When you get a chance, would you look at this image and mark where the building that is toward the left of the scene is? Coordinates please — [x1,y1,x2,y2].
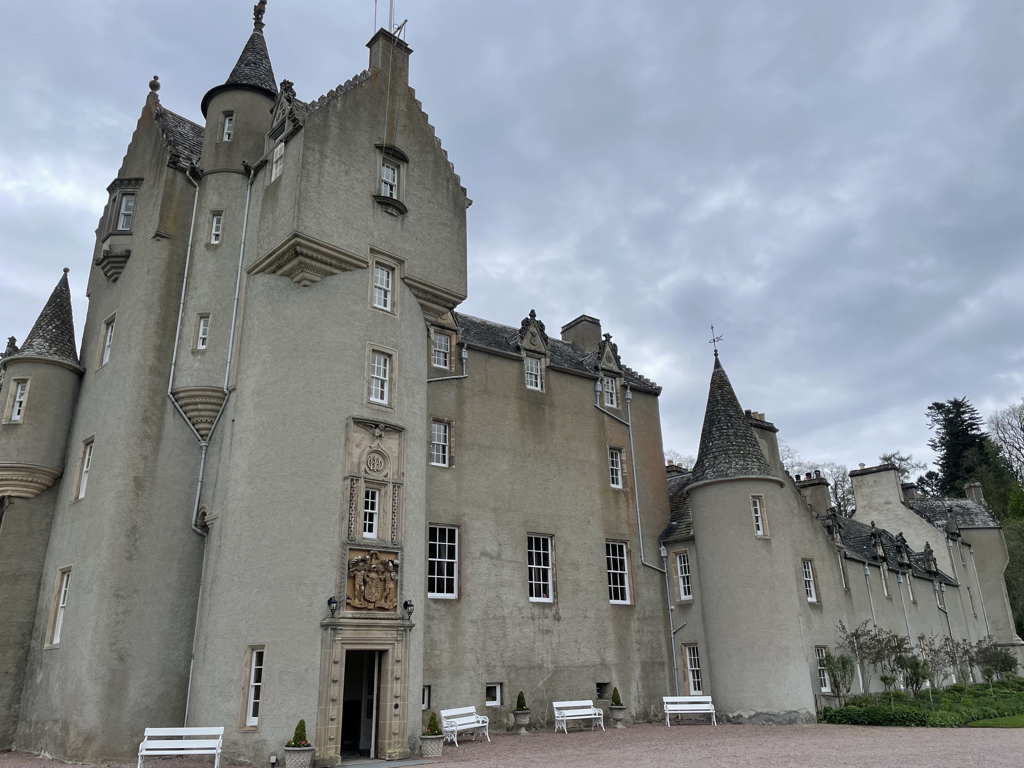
[0,0,689,768]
